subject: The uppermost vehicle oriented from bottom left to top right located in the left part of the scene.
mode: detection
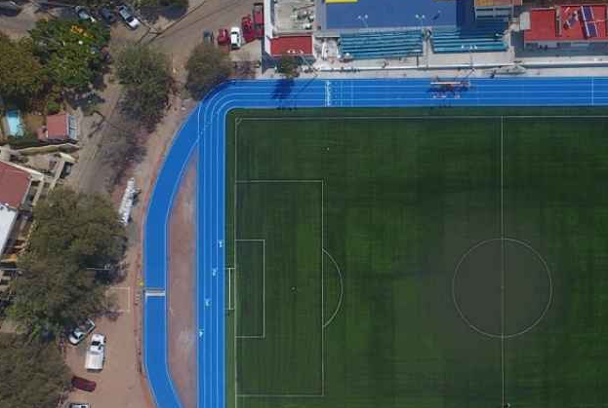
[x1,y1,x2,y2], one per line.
[68,318,95,345]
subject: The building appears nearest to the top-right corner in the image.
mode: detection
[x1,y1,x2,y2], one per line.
[519,3,608,46]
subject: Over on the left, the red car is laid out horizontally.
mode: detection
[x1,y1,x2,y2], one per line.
[70,377,97,391]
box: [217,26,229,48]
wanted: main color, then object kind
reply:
red vehicle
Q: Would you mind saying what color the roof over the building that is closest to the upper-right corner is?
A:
red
